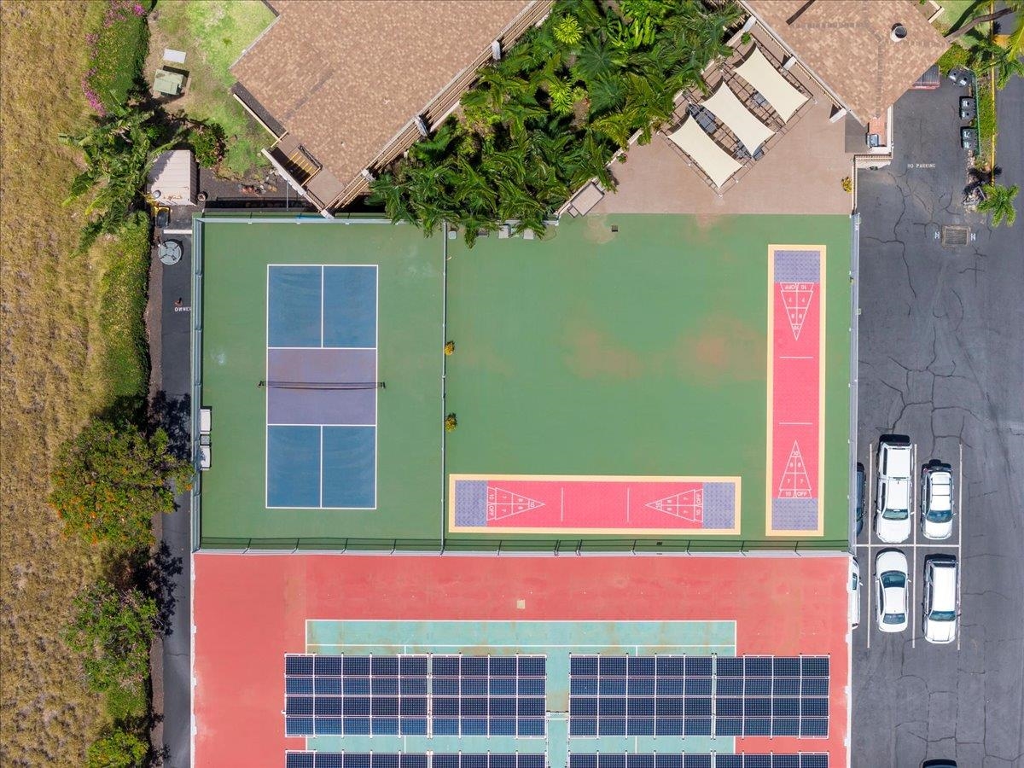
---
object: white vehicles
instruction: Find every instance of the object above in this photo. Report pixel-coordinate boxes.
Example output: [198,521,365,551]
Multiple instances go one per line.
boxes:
[873,441,917,543]
[850,556,865,629]
[919,462,959,540]
[872,548,913,632]
[920,558,963,642]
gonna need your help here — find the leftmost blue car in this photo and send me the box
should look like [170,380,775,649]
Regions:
[857,464,870,538]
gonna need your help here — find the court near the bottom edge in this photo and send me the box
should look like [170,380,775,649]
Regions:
[193,556,851,768]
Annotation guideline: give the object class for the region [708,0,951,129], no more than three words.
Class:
building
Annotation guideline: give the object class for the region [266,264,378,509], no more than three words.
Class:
sports court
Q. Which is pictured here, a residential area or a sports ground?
sports ground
